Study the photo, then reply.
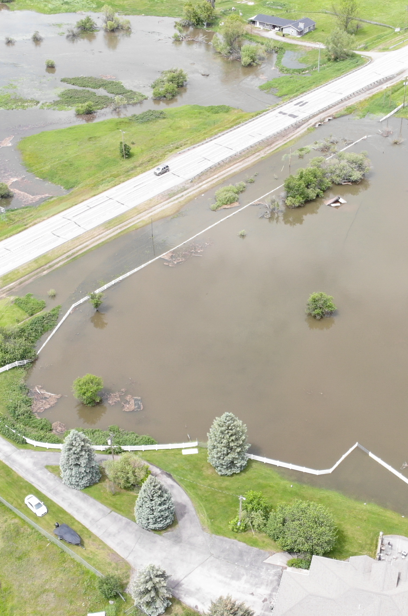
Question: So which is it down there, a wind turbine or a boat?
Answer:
boat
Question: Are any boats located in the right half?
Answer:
No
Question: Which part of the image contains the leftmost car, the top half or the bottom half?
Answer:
bottom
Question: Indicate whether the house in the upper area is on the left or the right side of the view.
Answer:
right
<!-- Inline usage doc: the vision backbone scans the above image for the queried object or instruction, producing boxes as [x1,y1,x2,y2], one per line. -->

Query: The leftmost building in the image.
[246,14,317,38]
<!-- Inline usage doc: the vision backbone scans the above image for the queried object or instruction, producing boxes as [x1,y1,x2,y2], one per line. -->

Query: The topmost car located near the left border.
[20,489,48,515]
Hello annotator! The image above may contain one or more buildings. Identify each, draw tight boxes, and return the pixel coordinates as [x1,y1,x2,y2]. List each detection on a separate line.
[272,556,408,616]
[246,14,317,38]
